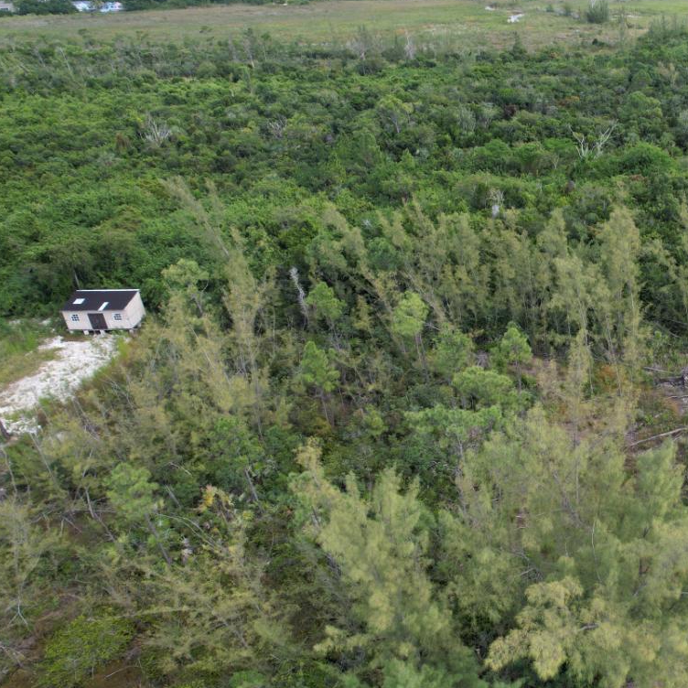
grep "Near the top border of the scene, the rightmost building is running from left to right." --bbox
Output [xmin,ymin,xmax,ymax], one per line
[94,0,127,13]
